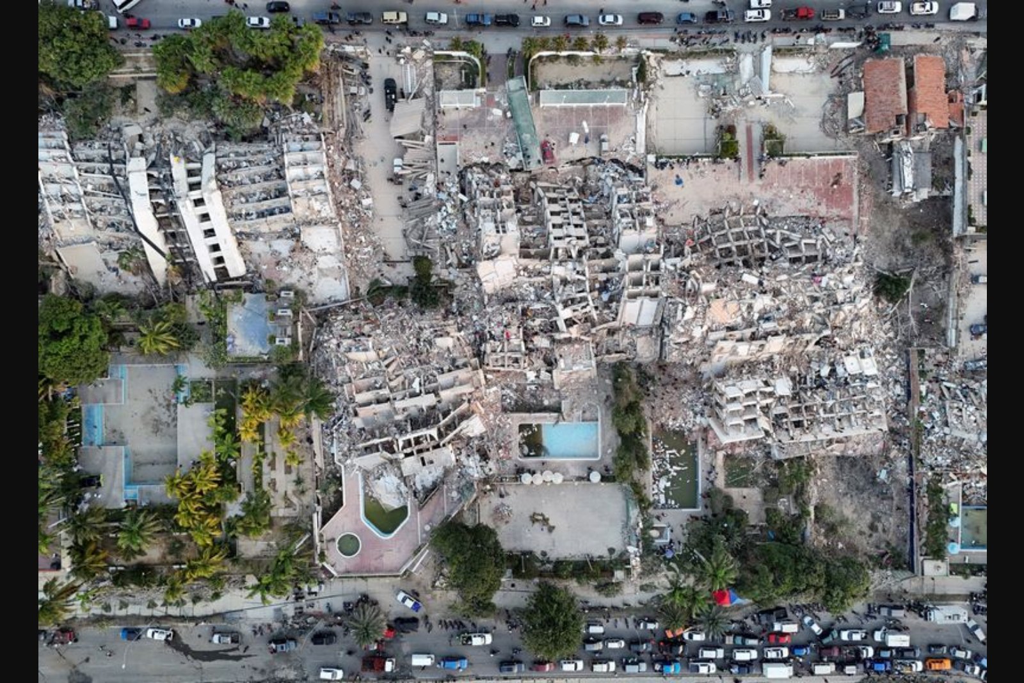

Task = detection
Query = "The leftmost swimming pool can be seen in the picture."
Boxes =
[80,363,188,503]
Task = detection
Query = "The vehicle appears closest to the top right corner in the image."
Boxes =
[944,4,977,21]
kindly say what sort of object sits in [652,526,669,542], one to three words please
swimming pool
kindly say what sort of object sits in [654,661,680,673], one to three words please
vehicle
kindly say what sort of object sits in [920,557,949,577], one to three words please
shed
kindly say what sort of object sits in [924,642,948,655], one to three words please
vehicle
